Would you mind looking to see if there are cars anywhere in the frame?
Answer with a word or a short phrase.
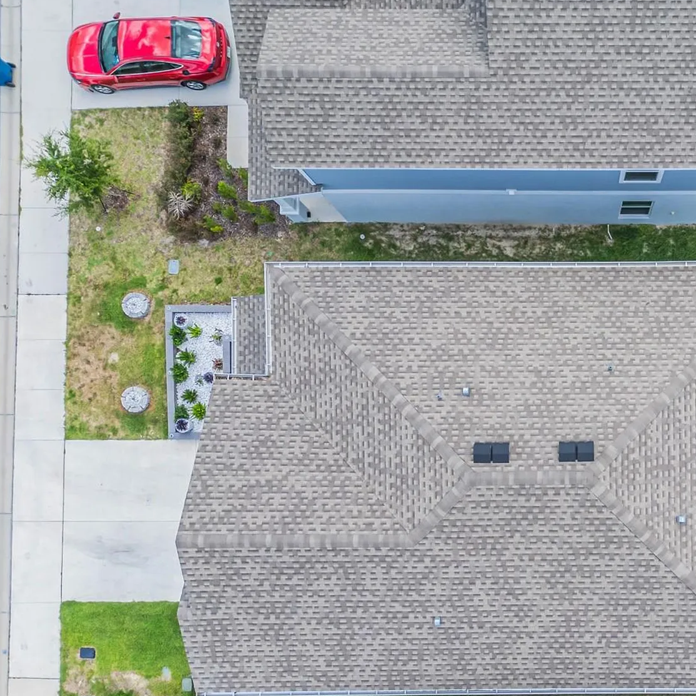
Yes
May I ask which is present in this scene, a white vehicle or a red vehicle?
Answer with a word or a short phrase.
red vehicle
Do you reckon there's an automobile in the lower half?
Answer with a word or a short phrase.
No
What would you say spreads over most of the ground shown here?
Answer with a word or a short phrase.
buildings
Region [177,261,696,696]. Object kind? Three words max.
house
